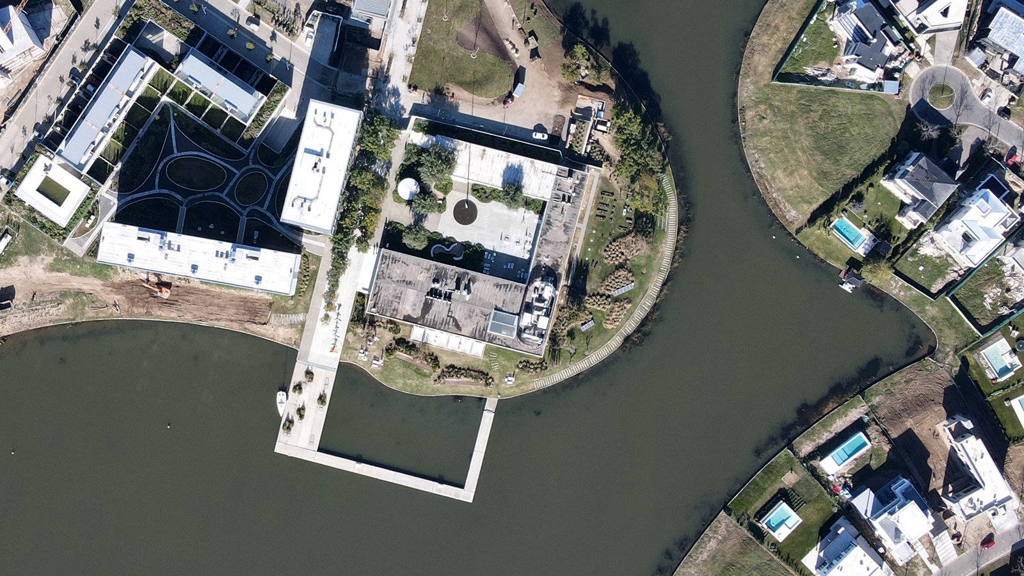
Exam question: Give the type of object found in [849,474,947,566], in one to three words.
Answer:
house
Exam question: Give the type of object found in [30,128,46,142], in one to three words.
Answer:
vehicle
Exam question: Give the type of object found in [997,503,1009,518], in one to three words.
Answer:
vehicle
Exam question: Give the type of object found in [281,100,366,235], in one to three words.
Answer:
building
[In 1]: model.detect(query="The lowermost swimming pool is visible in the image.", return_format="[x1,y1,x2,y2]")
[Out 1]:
[762,502,802,542]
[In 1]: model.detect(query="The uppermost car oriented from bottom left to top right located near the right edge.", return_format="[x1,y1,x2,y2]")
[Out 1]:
[979,91,994,108]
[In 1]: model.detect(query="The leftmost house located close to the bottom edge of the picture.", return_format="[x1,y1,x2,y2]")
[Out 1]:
[801,514,897,576]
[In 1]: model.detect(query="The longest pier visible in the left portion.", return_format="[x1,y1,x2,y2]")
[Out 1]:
[274,365,494,503]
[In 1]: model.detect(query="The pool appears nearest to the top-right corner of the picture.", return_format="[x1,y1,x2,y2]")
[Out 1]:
[830,216,878,257]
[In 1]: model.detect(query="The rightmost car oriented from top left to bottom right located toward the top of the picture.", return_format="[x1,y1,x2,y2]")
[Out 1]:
[996,107,1013,120]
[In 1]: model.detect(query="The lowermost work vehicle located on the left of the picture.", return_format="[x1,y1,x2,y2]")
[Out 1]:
[136,279,175,301]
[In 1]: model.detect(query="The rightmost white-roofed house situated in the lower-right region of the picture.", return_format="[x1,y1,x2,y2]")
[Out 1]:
[939,413,1013,521]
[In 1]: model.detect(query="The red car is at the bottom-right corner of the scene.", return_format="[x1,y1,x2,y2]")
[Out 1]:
[980,537,997,549]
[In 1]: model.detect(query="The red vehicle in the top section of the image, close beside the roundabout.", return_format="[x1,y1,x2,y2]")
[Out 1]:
[1004,153,1019,167]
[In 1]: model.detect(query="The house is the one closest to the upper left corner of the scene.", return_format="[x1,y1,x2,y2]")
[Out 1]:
[0,6,46,94]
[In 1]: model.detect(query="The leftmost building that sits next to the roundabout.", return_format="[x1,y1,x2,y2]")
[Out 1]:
[829,0,900,94]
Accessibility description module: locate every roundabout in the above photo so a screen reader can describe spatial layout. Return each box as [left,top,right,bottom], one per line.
[909,64,1024,153]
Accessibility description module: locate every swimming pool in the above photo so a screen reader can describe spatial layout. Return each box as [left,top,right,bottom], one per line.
[830,216,878,257]
[973,332,1022,382]
[762,502,802,542]
[819,432,871,475]
[1010,393,1024,427]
